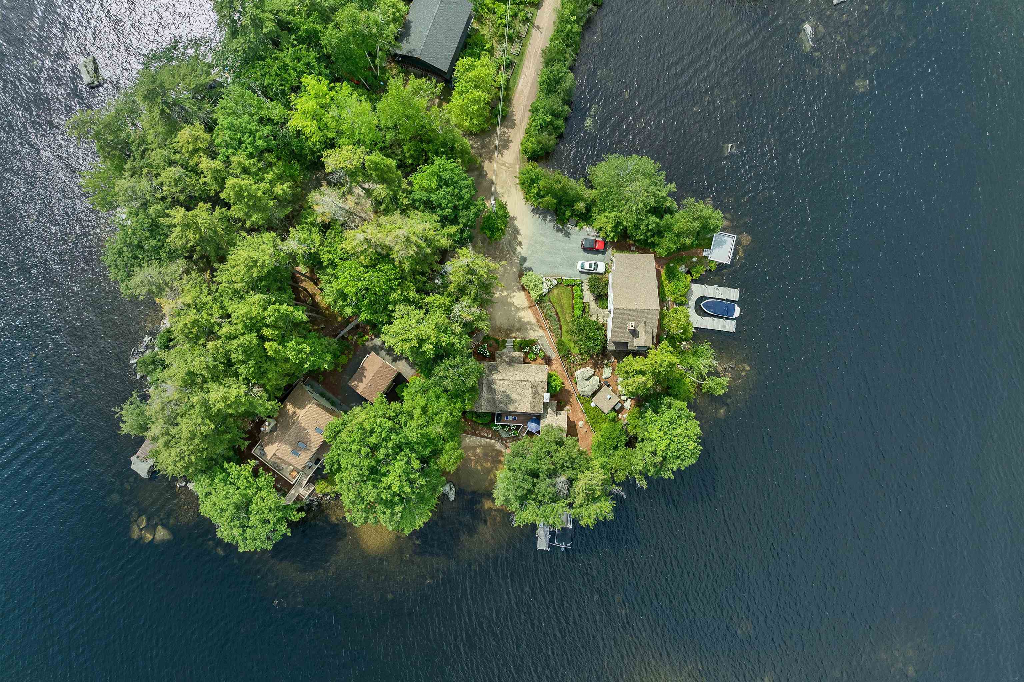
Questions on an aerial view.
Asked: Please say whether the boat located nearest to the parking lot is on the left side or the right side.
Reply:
right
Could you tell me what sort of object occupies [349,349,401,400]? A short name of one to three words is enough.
building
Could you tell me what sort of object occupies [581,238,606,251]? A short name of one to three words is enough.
vehicle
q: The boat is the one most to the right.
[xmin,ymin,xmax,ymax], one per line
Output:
[701,300,742,320]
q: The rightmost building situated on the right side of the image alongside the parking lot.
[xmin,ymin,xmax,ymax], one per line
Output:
[606,253,660,350]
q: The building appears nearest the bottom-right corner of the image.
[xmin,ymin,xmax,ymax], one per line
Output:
[591,385,619,414]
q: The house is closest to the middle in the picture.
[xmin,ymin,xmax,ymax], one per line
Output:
[475,350,565,440]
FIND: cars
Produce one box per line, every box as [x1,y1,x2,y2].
[581,238,606,251]
[577,261,605,274]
